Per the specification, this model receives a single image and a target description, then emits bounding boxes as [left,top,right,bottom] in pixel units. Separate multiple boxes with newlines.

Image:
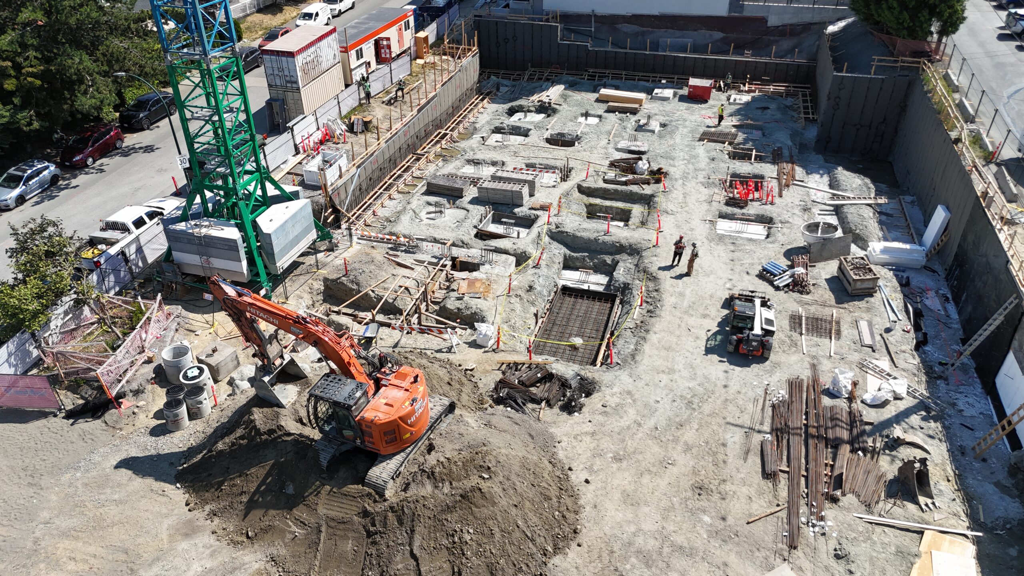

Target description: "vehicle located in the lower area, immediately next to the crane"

[205,275,461,499]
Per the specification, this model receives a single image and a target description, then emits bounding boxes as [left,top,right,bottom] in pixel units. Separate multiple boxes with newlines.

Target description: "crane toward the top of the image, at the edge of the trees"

[143,0,340,302]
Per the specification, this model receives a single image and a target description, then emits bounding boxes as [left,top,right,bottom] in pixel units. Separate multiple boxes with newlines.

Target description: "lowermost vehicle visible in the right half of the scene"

[720,283,783,358]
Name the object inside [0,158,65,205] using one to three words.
car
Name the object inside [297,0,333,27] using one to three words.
vehicle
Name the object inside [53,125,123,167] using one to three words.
car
